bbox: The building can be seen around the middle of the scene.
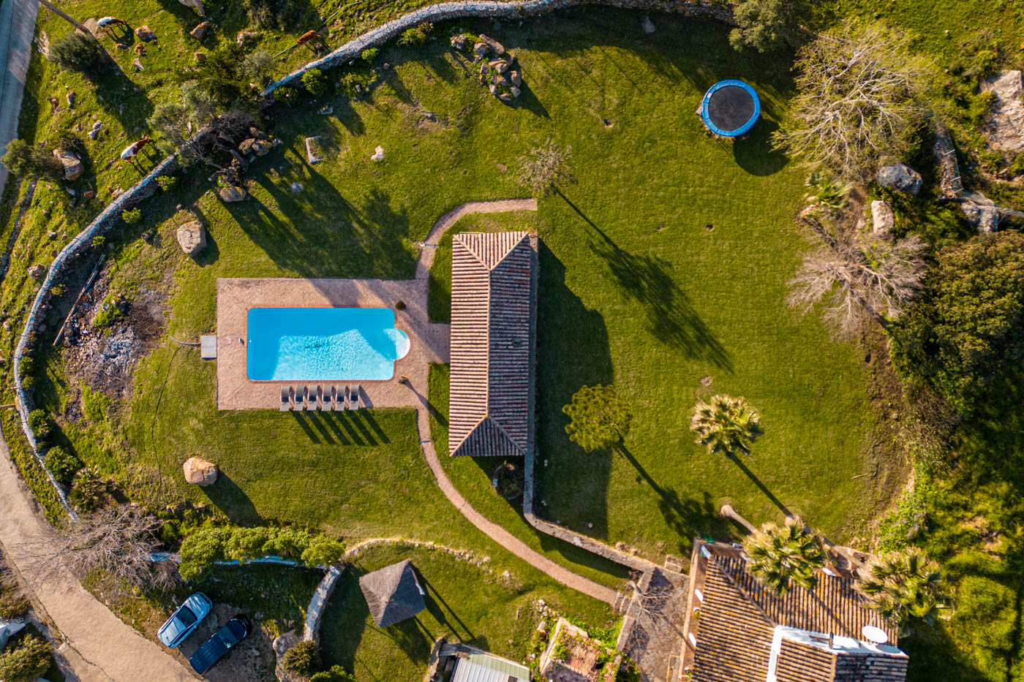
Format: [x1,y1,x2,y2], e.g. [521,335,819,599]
[447,230,530,458]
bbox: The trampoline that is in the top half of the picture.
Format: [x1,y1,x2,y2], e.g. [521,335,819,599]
[701,80,760,139]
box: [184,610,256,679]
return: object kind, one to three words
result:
vehicle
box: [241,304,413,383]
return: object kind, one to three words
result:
swimming pool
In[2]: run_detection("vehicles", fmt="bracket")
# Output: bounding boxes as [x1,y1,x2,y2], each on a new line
[184,610,256,679]
[155,588,216,650]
